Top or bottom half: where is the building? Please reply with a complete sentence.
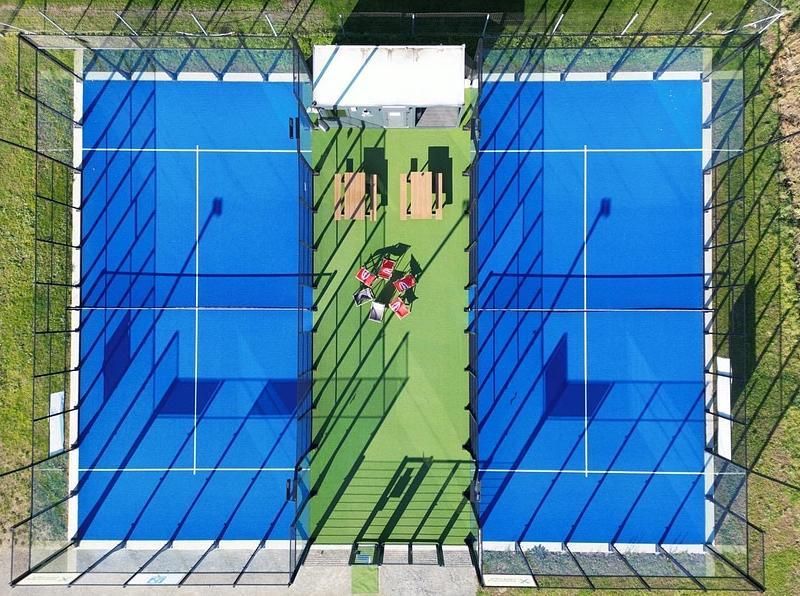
The top half of the photo is where the building is.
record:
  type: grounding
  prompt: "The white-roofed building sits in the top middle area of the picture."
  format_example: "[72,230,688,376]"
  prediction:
[312,41,466,130]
